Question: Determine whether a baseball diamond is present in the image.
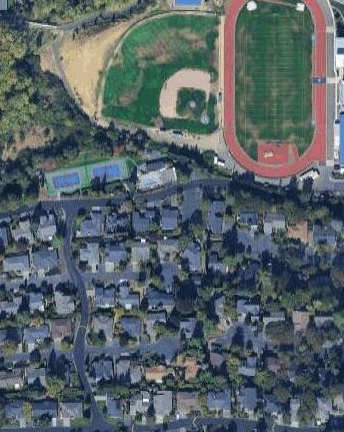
Yes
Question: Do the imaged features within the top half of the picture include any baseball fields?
Yes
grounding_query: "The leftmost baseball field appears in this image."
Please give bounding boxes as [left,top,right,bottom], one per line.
[102,14,220,135]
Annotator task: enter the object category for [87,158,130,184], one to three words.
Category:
tennis court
